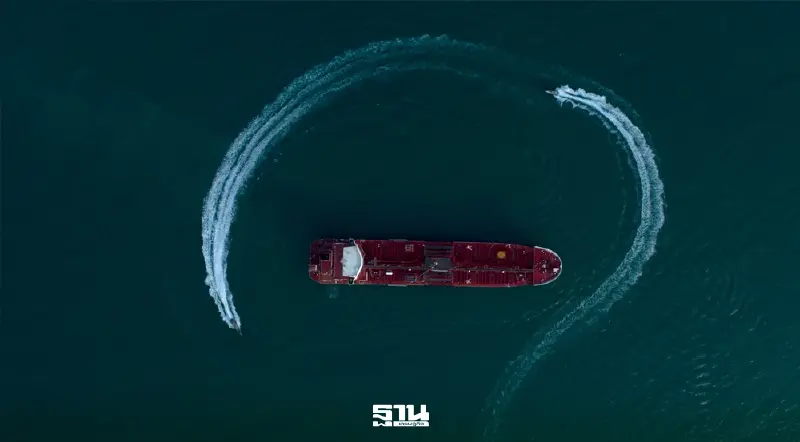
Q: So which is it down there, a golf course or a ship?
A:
ship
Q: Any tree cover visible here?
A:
No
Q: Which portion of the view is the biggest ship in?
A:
center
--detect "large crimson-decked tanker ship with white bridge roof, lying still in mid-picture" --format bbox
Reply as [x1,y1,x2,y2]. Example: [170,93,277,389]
[308,238,564,287]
